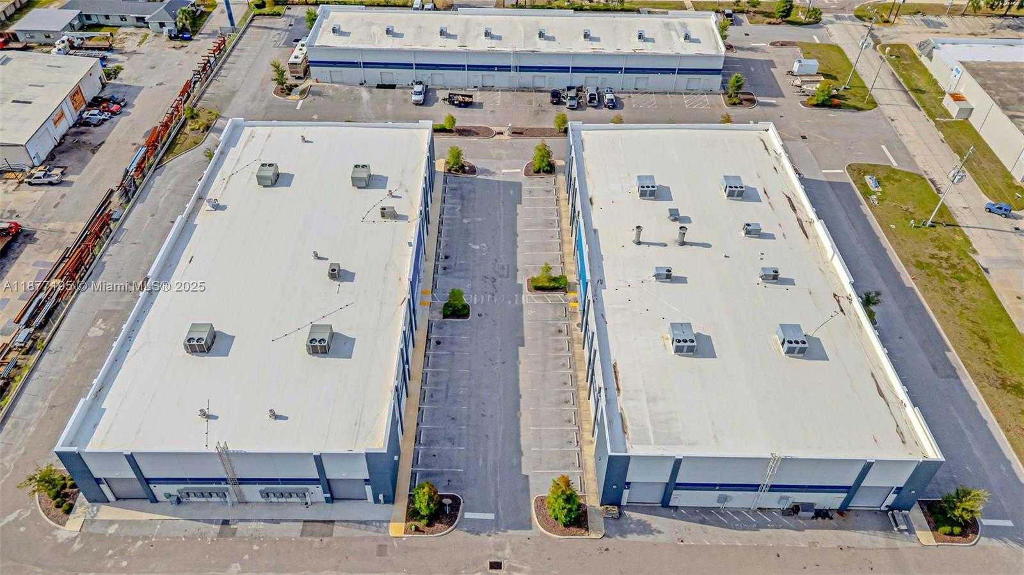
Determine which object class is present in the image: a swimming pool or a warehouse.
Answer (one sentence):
The image shows a warehouse.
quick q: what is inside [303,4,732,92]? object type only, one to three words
building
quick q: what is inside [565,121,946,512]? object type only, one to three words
warehouse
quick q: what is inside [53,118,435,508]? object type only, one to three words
warehouse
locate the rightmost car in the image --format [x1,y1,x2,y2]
[983,200,1018,218]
